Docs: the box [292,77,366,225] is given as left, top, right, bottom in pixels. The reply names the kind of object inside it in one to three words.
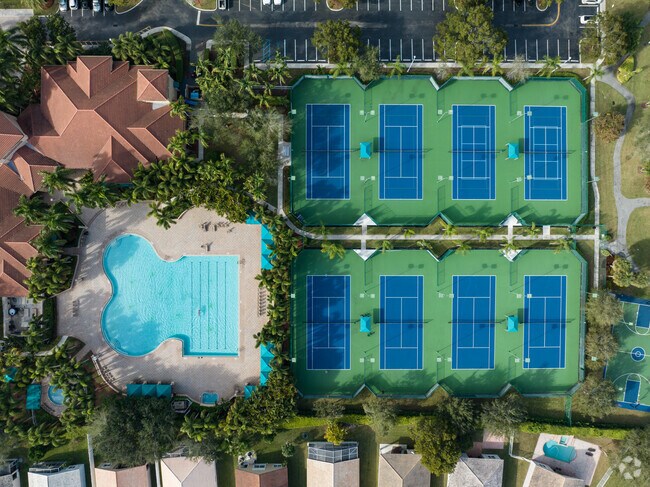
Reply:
tennis court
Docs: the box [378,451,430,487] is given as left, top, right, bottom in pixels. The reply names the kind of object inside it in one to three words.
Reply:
house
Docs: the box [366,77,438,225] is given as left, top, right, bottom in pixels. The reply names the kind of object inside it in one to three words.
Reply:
tennis court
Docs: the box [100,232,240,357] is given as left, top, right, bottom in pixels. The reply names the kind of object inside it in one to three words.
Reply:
swimming pool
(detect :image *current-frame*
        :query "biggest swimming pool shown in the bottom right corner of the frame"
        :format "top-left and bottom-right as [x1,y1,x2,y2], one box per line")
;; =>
[542,439,579,464]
